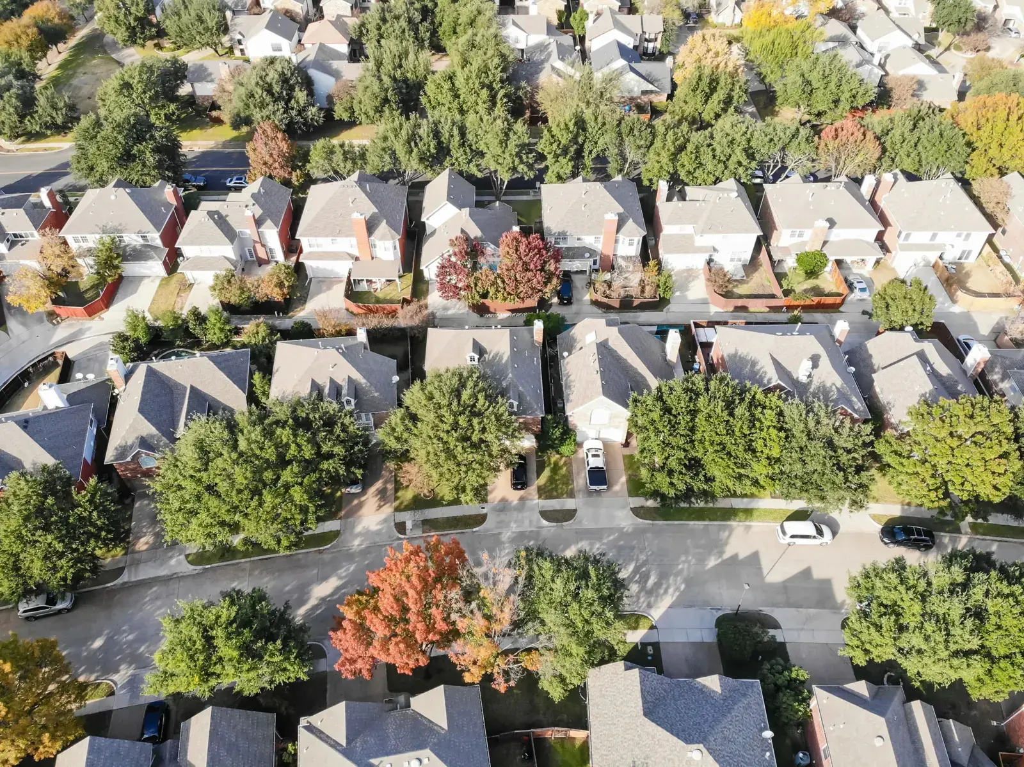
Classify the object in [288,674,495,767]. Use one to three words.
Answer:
house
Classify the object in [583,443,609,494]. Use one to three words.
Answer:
truck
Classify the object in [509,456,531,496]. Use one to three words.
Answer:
car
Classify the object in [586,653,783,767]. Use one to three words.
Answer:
house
